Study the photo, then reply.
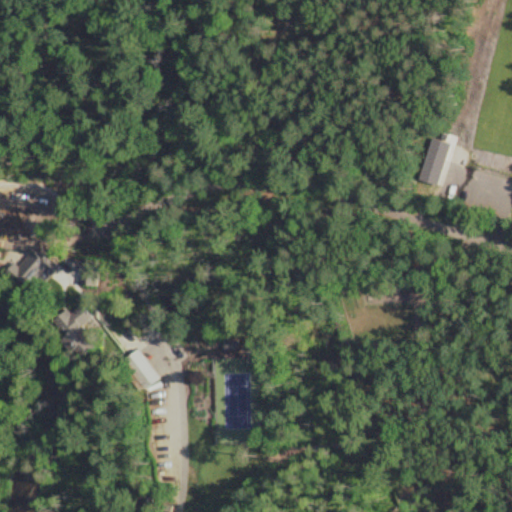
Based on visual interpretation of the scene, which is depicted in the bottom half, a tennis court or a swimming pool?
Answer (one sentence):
The feature located in the bottom half is a tennis court.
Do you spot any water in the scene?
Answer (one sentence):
No, water can't be seen anywhere here.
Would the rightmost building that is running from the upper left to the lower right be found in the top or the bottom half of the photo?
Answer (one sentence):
The bottom half of the photo is where the rightmost building that is running from the upper left to the lower right is.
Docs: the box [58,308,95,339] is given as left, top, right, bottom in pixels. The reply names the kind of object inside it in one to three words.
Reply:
house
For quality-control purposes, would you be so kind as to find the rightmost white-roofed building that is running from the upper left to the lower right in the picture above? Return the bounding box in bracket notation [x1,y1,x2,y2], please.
[125,349,160,388]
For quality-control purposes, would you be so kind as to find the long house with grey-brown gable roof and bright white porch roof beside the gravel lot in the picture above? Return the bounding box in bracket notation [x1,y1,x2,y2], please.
[418,138,456,187]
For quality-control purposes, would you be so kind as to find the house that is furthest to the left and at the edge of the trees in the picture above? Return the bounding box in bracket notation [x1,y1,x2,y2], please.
[10,250,48,284]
